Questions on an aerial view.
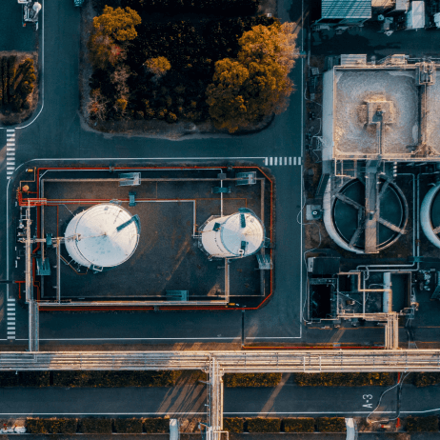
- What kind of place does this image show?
industrial area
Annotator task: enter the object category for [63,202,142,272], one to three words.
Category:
storage tank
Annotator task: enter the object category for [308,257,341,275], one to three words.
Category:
shed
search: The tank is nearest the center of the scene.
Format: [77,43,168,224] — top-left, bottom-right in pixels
[200,205,266,262]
